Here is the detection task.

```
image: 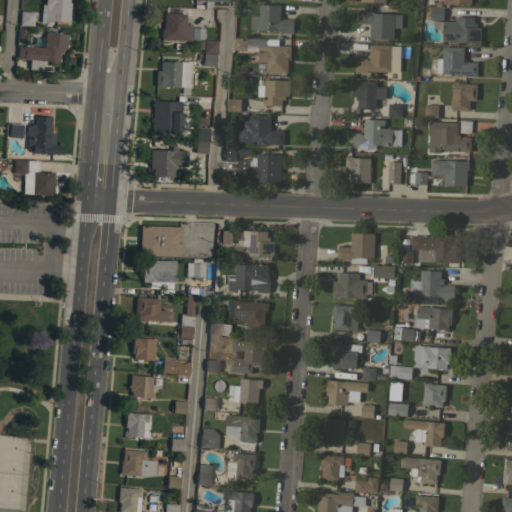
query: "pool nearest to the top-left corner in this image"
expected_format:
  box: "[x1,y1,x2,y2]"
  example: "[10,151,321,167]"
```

[10,138,25,156]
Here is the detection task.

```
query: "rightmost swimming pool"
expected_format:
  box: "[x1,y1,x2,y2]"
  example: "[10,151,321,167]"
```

[425,22,442,42]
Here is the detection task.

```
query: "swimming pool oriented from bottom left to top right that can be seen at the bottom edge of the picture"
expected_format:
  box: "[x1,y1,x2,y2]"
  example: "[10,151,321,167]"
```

[383,496,401,512]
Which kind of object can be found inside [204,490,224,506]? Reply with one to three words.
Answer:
swimming pool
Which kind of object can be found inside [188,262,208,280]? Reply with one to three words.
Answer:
building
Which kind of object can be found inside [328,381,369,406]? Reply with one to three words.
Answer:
house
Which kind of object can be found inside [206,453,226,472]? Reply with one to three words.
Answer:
swimming pool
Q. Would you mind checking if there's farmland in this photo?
No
